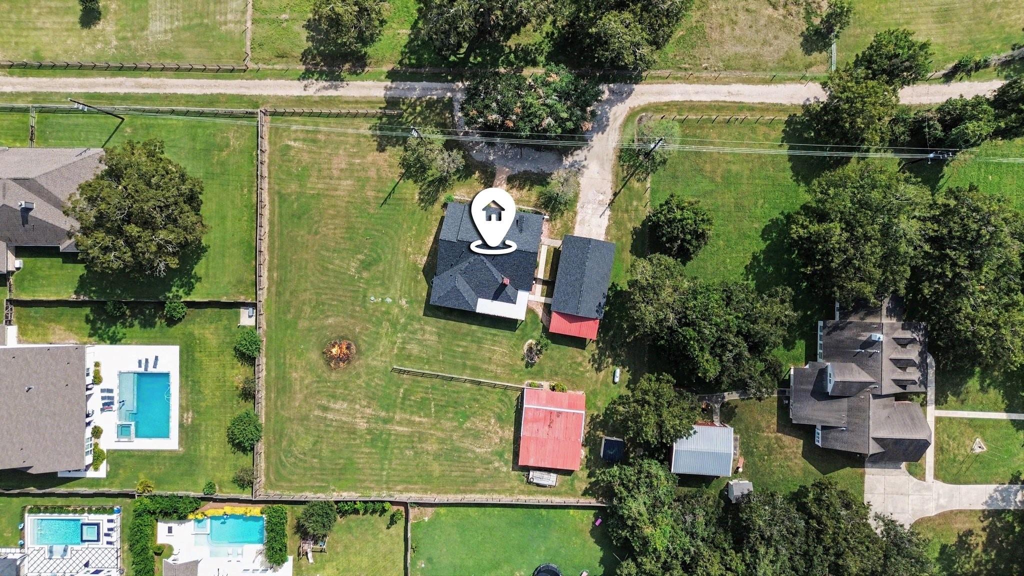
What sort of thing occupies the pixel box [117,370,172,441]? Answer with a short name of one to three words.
swimming pool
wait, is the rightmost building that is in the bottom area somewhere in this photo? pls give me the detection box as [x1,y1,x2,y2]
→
[788,283,931,461]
